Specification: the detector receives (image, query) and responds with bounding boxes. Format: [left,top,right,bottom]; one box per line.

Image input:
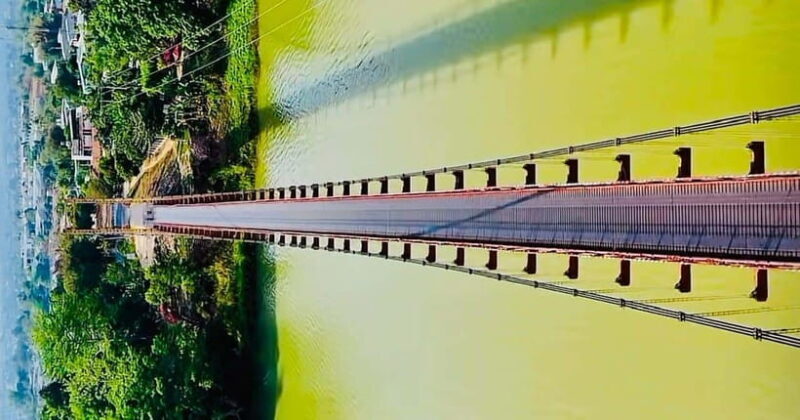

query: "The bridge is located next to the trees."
[66,104,800,346]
